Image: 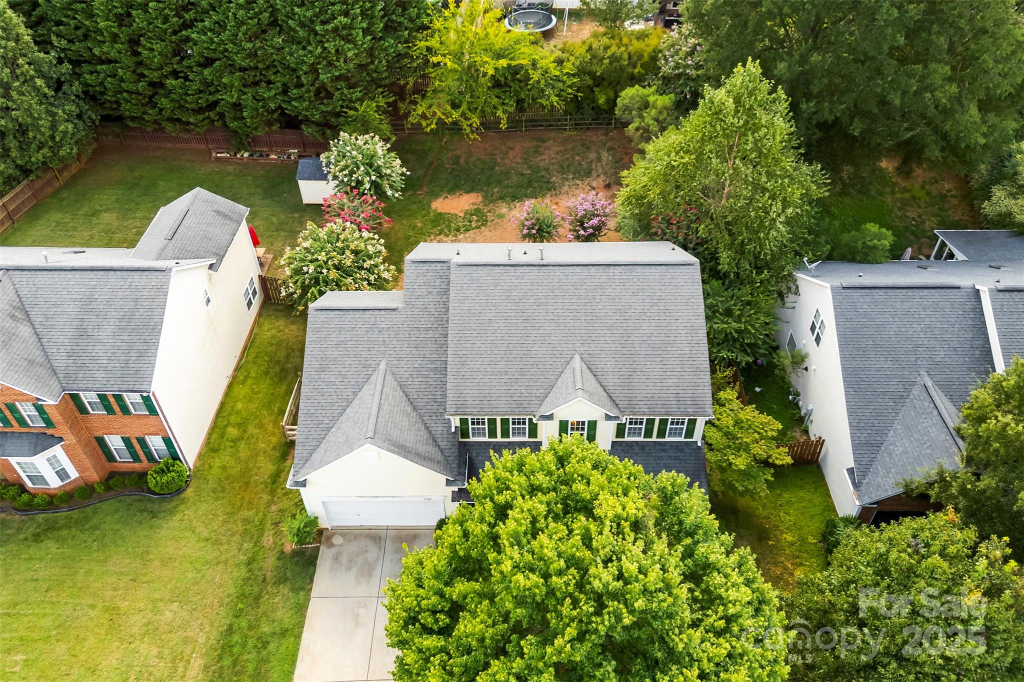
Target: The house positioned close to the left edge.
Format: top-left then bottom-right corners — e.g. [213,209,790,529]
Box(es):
[0,188,266,493]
